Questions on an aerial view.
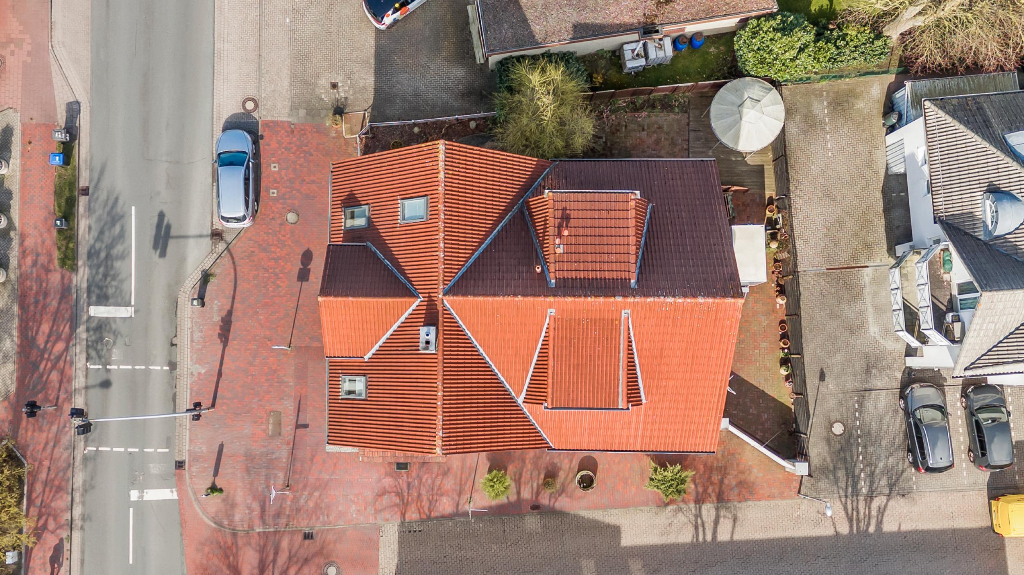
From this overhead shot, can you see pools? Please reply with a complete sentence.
No, no pool can be seen from above.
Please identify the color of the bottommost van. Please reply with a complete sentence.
The bottommost van is yellow.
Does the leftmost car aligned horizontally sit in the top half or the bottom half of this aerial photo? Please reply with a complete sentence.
You can find the leftmost car aligned horizontally in the top half.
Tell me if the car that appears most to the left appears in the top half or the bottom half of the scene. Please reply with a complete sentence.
It is in the top half that the car that appears most to the left appears.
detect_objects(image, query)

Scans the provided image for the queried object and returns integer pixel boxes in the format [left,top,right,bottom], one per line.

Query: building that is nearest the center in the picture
[318,139,746,461]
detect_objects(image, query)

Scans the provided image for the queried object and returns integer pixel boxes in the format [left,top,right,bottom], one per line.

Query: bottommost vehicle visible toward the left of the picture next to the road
[210,129,258,226]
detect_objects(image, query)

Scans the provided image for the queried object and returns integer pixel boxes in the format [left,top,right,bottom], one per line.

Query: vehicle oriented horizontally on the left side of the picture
[362,0,431,29]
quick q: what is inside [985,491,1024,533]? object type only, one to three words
van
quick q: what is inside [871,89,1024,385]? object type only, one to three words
house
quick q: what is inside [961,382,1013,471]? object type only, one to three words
car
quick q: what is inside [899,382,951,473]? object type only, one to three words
car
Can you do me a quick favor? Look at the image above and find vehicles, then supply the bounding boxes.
[899,382,951,473]
[362,0,431,29]
[210,129,258,226]
[961,382,1013,471]
[985,491,1024,533]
